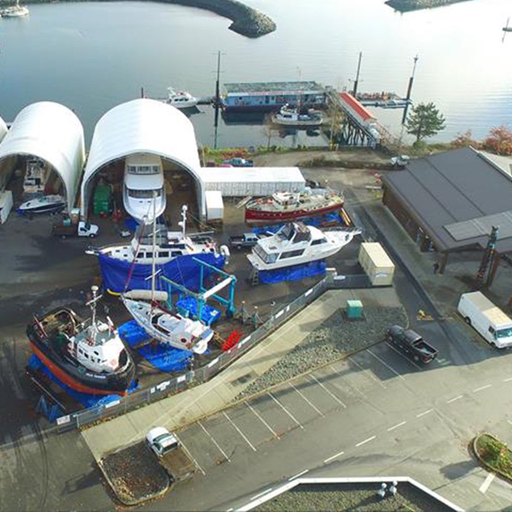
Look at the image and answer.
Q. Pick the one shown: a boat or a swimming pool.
boat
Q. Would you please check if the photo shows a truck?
Yes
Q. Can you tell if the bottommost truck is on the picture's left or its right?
left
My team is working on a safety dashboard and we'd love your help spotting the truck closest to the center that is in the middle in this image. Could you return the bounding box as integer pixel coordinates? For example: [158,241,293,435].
[228,230,268,253]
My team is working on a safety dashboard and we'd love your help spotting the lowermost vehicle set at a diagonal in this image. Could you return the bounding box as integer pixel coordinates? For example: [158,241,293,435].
[144,428,193,479]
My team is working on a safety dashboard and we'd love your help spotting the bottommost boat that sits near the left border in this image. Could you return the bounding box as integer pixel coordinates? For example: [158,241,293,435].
[19,294,142,392]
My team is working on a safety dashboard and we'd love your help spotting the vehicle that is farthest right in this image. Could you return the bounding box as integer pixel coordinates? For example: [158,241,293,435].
[459,294,512,358]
